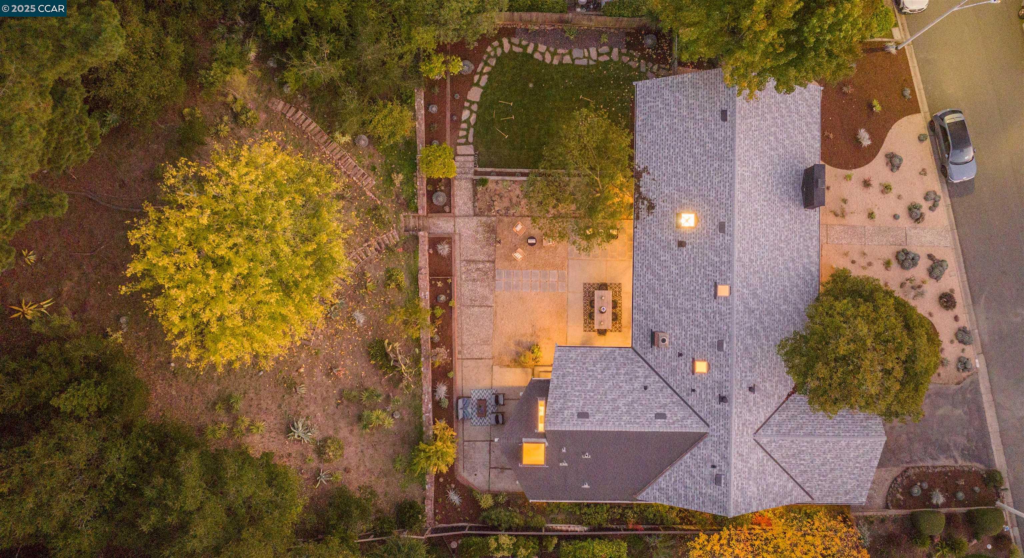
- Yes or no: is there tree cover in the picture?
Yes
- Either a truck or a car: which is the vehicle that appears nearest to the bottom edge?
car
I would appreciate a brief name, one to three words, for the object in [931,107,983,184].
car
